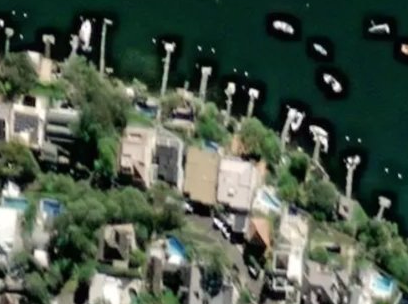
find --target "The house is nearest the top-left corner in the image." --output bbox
[26,52,52,83]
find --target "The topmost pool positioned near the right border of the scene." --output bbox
[370,270,396,294]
